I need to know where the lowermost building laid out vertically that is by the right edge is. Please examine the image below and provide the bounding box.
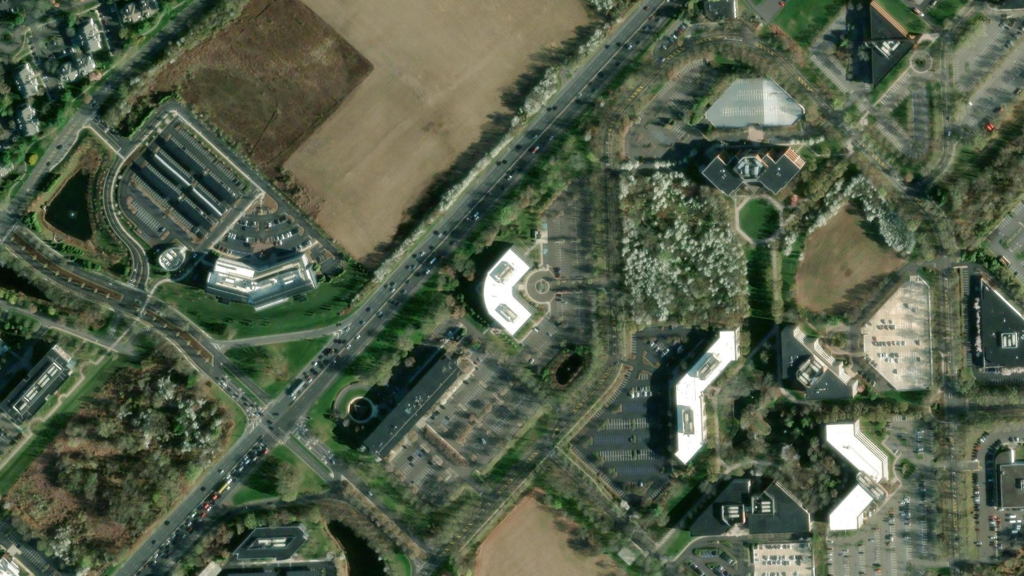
[995,445,1024,508]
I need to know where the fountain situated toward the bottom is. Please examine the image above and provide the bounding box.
[347,398,371,421]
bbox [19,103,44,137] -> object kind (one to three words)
house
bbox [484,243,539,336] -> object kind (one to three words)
building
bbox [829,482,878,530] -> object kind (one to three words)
building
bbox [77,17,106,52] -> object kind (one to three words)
house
